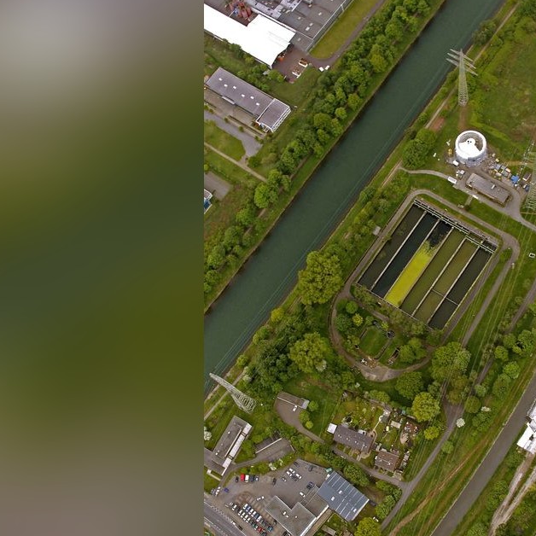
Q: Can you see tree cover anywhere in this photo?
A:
Yes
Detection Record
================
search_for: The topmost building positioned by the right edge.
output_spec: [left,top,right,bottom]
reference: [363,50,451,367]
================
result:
[467,173,511,206]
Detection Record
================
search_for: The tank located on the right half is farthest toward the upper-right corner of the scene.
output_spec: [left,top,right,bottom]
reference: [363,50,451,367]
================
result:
[455,131,486,166]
